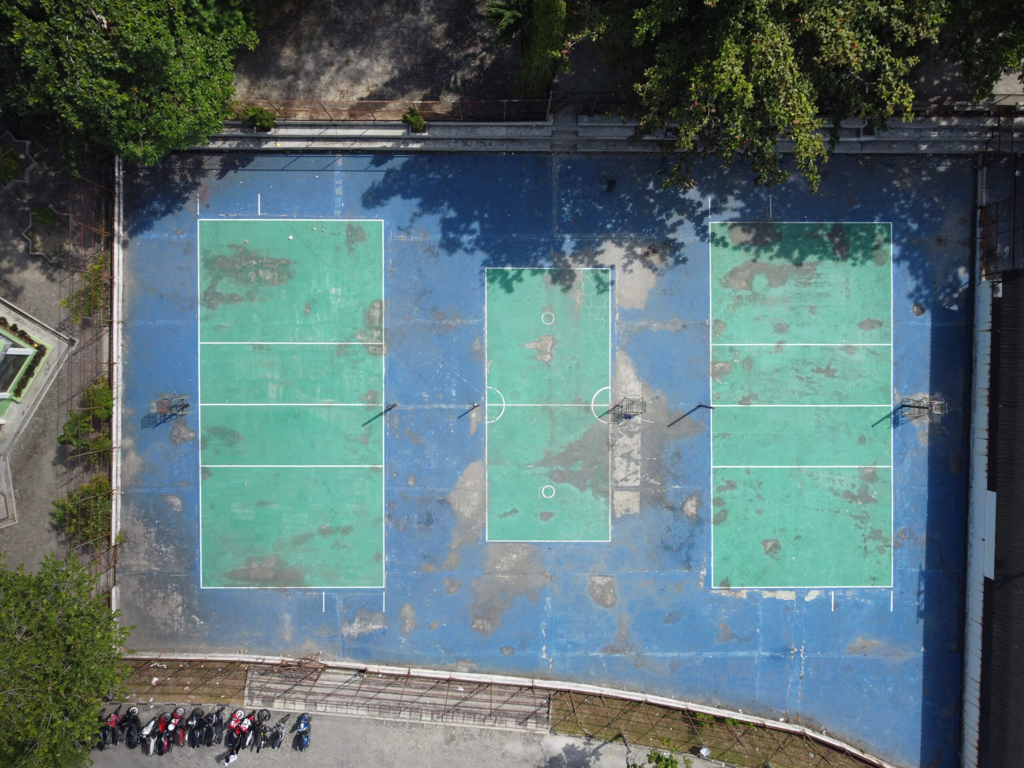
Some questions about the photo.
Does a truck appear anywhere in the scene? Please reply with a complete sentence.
No, there appears to be no truck in this shot.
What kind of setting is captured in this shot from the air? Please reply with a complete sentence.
The area seen from above is a sports ground.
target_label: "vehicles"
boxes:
[146,711,170,758]
[104,704,124,751]
[133,713,157,760]
[270,710,292,753]
[180,707,202,754]
[247,709,269,755]
[234,708,256,754]
[290,711,310,759]
[220,708,244,754]
[162,706,185,753]
[115,705,139,752]
[200,706,223,751]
